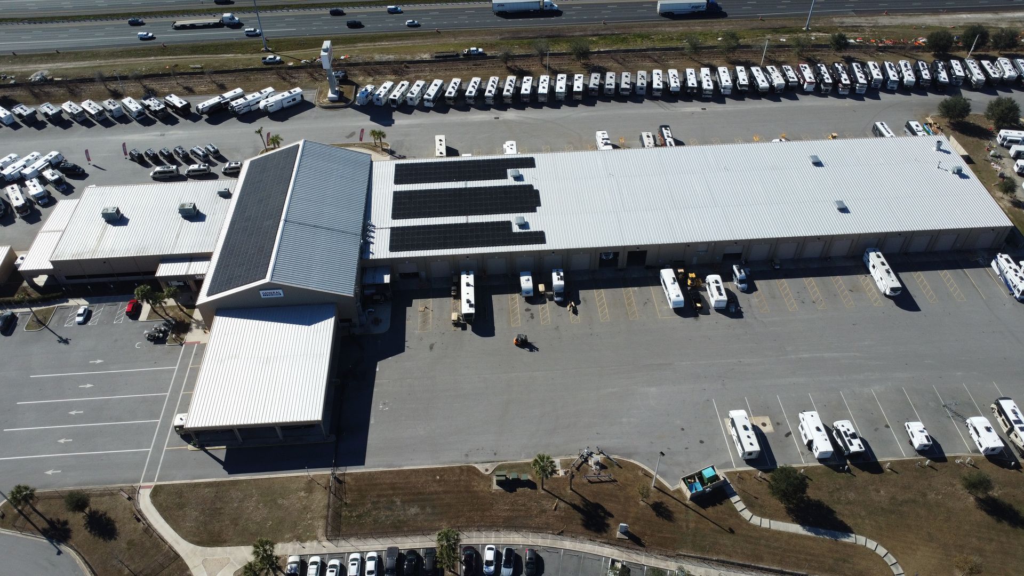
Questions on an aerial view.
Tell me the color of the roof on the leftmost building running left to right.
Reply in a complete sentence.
The roof of the leftmost building running left to right is white.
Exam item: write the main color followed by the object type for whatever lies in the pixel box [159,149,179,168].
black vehicle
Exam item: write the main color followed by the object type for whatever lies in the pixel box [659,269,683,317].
white trailer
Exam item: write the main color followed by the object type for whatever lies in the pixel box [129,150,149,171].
black vehicle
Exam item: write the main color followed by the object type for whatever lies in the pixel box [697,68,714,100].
white camper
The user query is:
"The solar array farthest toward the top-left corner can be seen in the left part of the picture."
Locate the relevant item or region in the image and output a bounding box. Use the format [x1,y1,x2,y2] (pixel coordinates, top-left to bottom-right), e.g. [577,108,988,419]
[207,145,295,296]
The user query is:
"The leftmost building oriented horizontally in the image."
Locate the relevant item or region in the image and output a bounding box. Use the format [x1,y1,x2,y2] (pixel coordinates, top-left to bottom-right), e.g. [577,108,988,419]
[18,177,235,284]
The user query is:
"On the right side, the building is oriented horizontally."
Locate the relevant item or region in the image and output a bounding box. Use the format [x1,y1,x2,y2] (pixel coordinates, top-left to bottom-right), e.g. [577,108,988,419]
[361,133,1014,280]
